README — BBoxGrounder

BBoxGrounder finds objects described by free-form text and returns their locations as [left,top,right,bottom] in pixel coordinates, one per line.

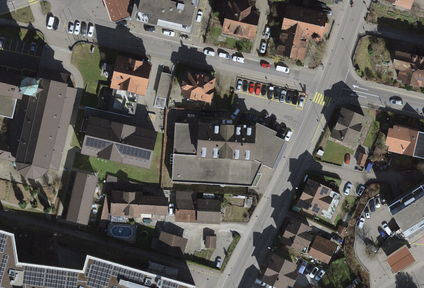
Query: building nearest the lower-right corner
[388,246,417,275]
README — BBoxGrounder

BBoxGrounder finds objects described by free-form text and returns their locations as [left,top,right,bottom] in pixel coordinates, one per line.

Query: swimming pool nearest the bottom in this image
[108,224,137,244]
